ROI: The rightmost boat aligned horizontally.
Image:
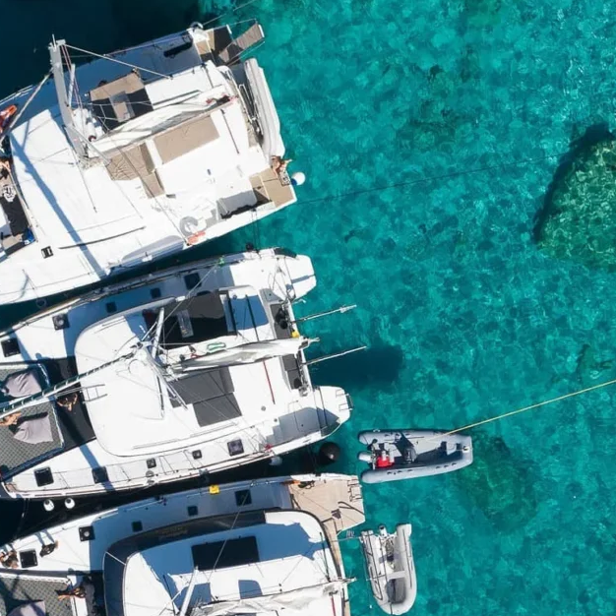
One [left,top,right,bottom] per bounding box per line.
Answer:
[351,426,475,483]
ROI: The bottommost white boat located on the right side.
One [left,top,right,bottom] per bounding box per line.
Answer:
[361,517,418,616]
